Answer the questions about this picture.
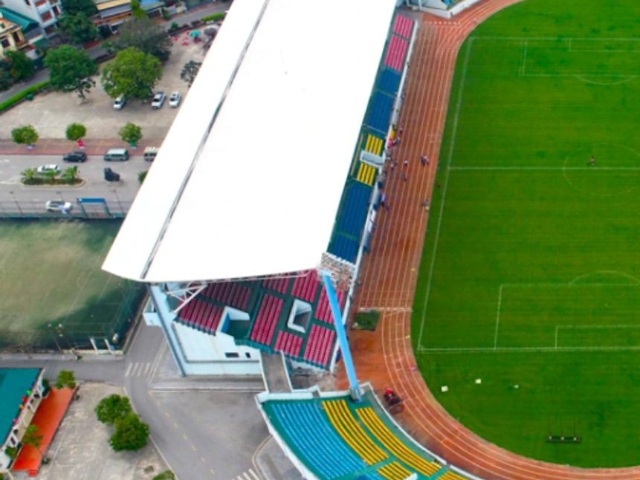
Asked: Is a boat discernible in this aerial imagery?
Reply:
No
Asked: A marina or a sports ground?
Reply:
sports ground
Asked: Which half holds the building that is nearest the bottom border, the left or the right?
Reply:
left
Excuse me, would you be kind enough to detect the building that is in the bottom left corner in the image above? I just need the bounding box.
[0,357,44,464]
